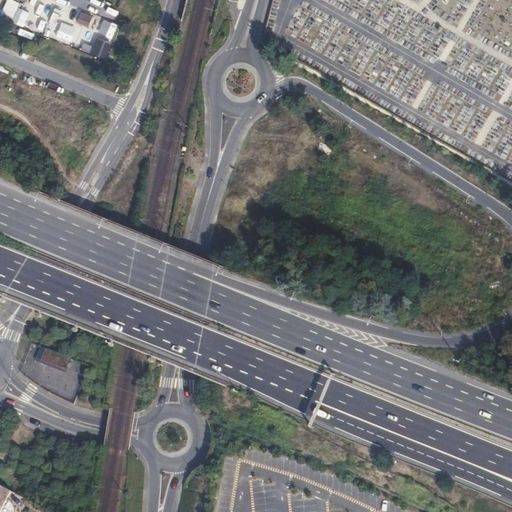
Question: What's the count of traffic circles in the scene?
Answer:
2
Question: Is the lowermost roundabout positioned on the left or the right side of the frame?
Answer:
left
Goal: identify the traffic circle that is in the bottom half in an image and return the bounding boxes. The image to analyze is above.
[140,404,206,470]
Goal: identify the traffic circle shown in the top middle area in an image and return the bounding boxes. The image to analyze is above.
[207,48,276,118]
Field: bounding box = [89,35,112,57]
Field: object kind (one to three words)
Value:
house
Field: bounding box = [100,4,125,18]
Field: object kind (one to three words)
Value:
camper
